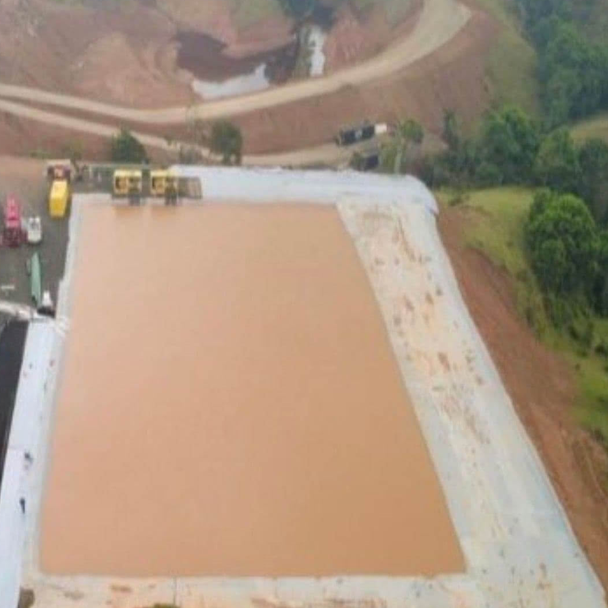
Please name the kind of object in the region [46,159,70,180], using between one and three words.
work vehicle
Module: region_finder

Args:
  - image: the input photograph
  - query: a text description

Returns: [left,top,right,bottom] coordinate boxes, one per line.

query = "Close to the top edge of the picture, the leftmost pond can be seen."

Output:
[176,30,302,99]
